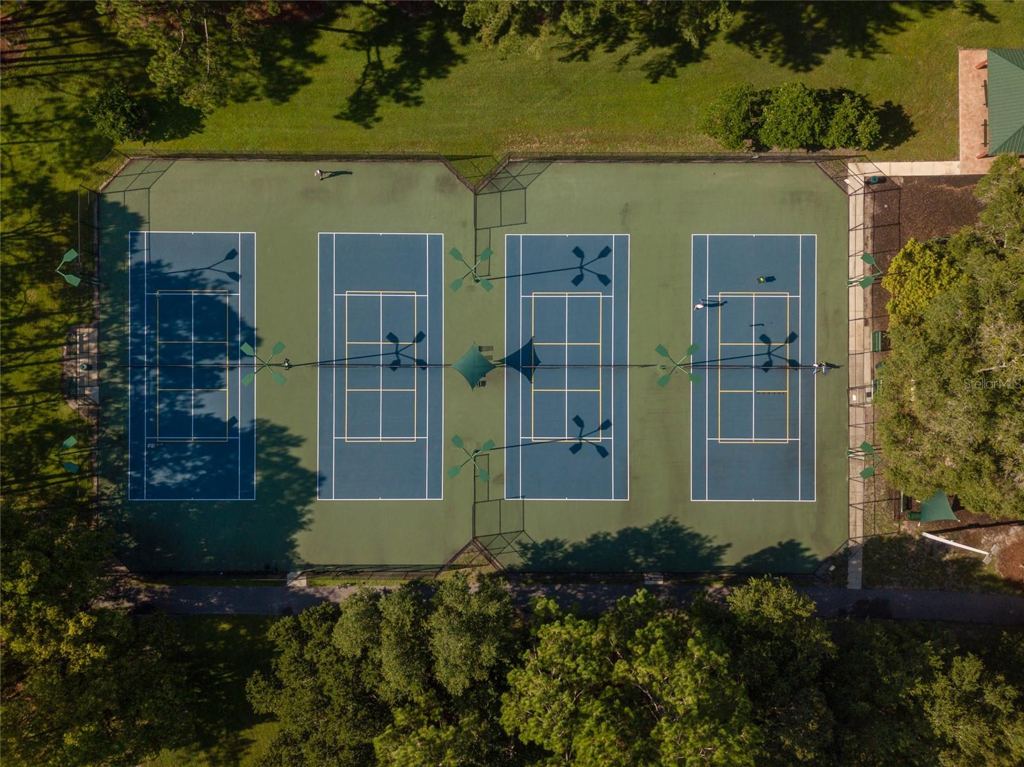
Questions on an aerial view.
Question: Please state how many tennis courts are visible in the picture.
4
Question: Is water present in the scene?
No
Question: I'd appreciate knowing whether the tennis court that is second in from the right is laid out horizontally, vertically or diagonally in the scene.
vertically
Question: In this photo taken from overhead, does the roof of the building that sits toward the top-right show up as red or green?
green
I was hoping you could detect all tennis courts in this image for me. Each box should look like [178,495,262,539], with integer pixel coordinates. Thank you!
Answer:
[692,235,816,501]
[506,235,629,500]
[319,233,443,499]
[129,232,255,500]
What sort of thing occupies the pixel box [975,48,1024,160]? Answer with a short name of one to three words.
building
